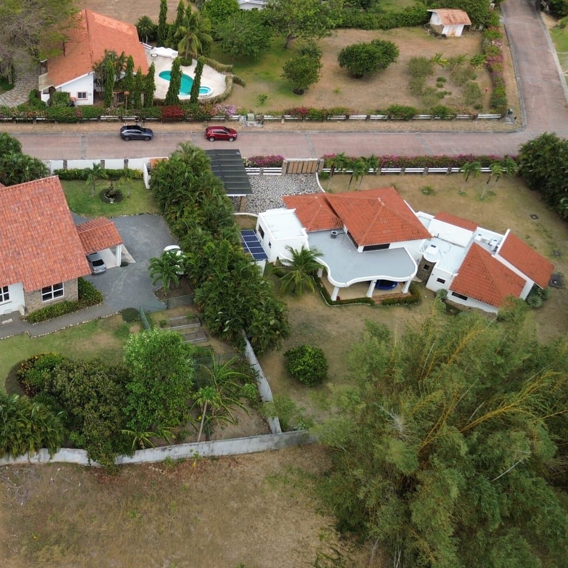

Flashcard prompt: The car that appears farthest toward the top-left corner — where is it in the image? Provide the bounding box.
[120,125,153,142]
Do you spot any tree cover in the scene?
Yes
